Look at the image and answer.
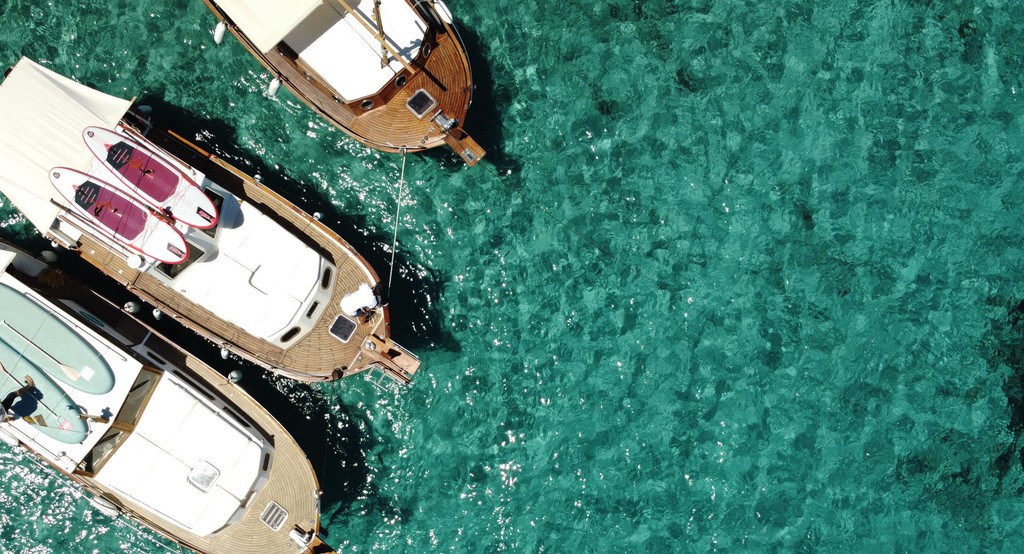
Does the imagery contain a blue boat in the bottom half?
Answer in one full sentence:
No, the scene shows no blue boat in the bottom half.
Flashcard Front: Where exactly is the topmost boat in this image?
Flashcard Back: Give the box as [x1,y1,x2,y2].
[202,0,483,162]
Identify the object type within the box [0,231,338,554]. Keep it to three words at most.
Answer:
boat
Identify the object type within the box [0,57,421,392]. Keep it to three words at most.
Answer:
boat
